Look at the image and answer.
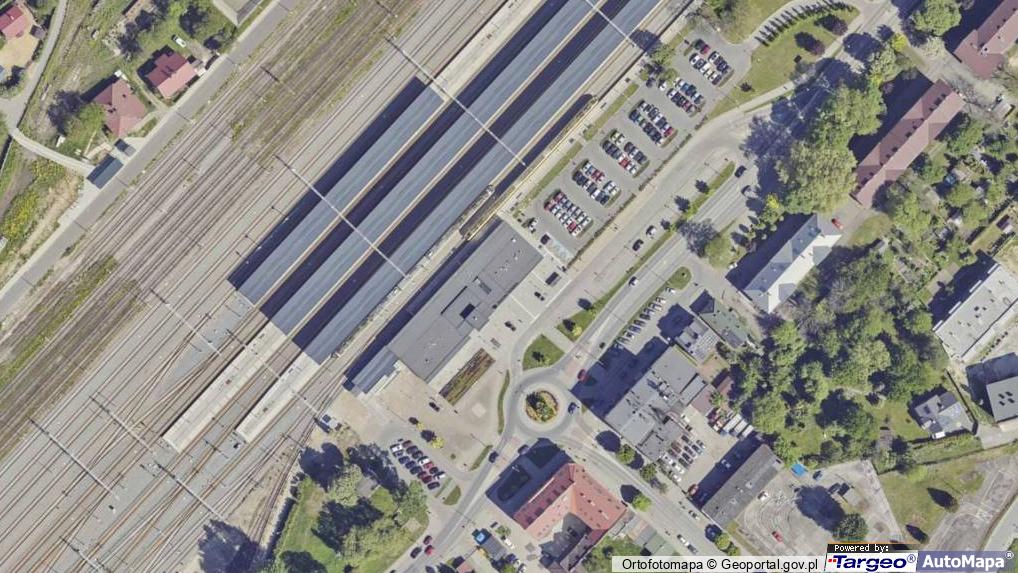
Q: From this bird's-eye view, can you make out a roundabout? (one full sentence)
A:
Yes, there's a roundabout here.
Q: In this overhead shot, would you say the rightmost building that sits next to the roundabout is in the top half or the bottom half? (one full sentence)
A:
It is in the bottom half that the rightmost building that sits next to the roundabout appears.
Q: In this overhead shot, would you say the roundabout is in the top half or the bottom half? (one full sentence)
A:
The bottom half of the photo is where the roundabout is.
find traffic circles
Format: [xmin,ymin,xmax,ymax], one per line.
[508,372,577,441]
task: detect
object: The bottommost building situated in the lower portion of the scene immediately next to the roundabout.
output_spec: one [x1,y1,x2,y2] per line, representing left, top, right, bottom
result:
[512,464,627,572]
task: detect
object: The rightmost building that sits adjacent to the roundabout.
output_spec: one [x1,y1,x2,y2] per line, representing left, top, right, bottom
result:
[605,344,709,462]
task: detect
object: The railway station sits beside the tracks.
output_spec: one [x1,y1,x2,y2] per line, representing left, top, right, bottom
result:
[163,0,662,454]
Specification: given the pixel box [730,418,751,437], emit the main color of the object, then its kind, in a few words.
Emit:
white vehicle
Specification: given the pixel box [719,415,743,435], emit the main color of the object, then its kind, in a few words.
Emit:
white vehicle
